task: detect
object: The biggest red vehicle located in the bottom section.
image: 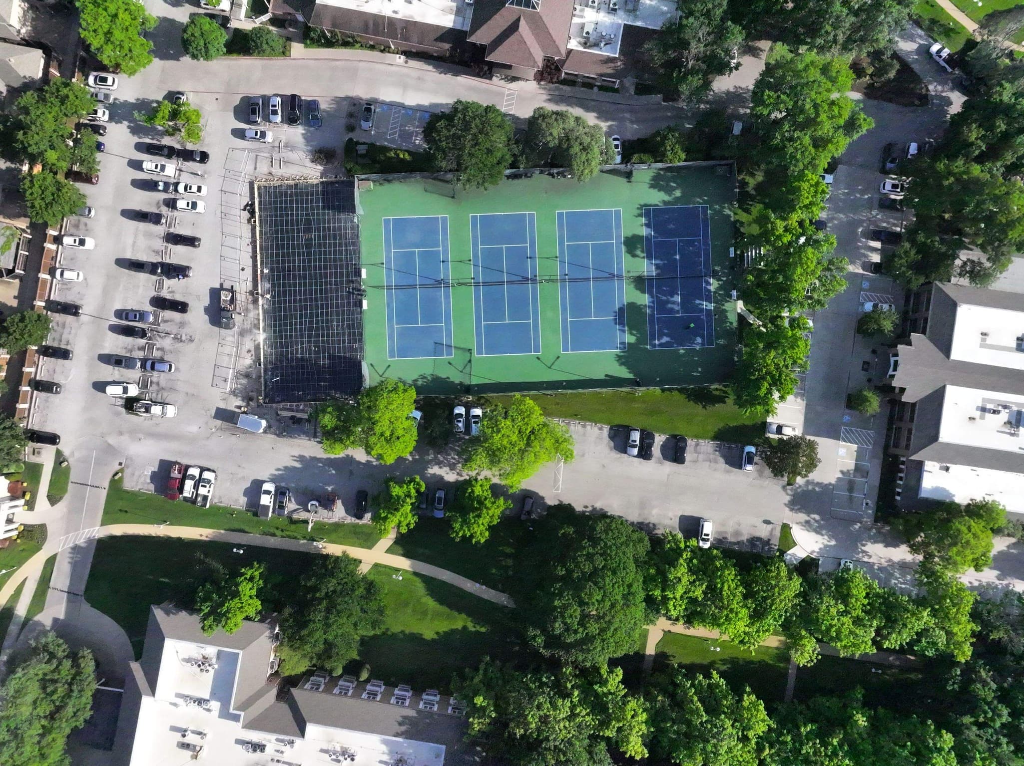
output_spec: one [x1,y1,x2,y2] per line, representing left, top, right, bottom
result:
[167,462,186,501]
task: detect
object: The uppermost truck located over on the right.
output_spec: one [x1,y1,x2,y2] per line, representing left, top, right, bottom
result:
[926,39,955,74]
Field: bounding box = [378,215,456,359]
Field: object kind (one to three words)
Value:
tennis court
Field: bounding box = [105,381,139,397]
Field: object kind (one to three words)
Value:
car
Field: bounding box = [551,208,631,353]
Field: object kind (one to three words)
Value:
tennis court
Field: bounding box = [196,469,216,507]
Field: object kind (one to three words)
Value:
vehicle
